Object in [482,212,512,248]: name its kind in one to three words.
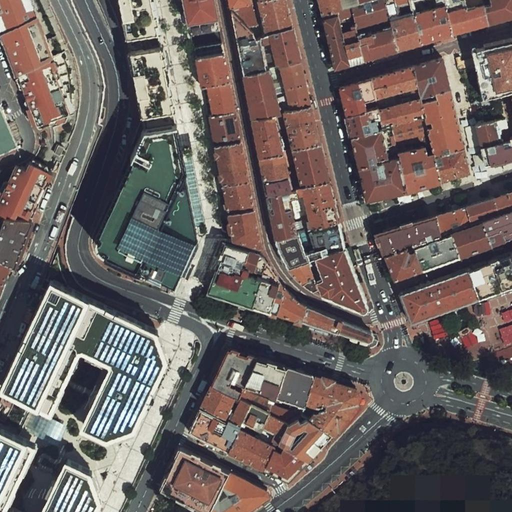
building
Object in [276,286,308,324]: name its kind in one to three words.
building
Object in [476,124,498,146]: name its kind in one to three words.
house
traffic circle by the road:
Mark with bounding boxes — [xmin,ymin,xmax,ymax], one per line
[366,345,440,419]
